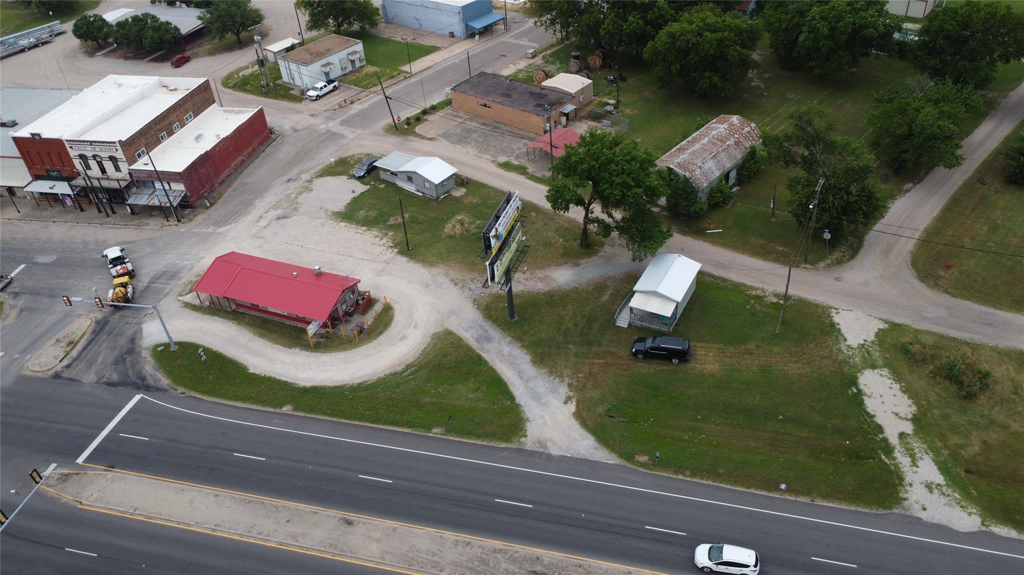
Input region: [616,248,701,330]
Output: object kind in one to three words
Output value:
building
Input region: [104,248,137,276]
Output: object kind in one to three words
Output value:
truck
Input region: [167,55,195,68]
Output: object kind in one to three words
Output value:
vehicle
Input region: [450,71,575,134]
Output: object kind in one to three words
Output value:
building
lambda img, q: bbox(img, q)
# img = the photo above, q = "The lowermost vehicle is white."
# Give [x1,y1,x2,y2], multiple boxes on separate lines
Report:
[694,544,760,575]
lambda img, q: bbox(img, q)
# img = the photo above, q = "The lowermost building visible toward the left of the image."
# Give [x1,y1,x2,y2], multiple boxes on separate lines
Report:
[194,250,361,333]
